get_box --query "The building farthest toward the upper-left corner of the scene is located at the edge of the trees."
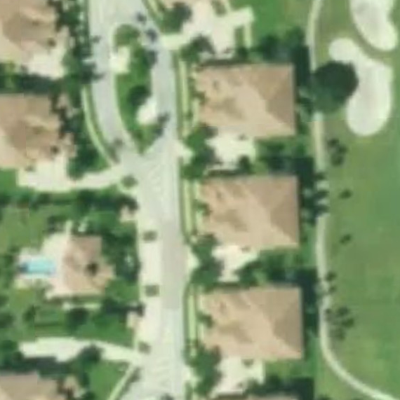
[0,0,60,59]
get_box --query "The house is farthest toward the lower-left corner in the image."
[0,377,54,400]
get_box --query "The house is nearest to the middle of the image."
[201,176,300,249]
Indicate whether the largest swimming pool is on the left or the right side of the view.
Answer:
left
